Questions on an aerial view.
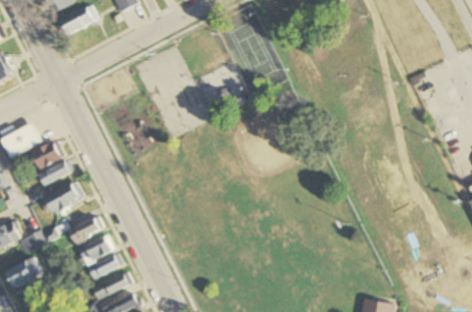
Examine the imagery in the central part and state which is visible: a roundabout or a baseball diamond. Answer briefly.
baseball diamond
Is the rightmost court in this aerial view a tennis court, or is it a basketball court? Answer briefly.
tennis court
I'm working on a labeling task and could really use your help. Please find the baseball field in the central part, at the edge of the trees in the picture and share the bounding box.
[231,118,304,180]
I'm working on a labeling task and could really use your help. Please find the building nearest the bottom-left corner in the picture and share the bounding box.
[6,255,42,288]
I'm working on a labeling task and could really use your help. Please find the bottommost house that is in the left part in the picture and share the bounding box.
[104,292,142,312]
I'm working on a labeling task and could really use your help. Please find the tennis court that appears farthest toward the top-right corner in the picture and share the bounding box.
[218,4,296,104]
